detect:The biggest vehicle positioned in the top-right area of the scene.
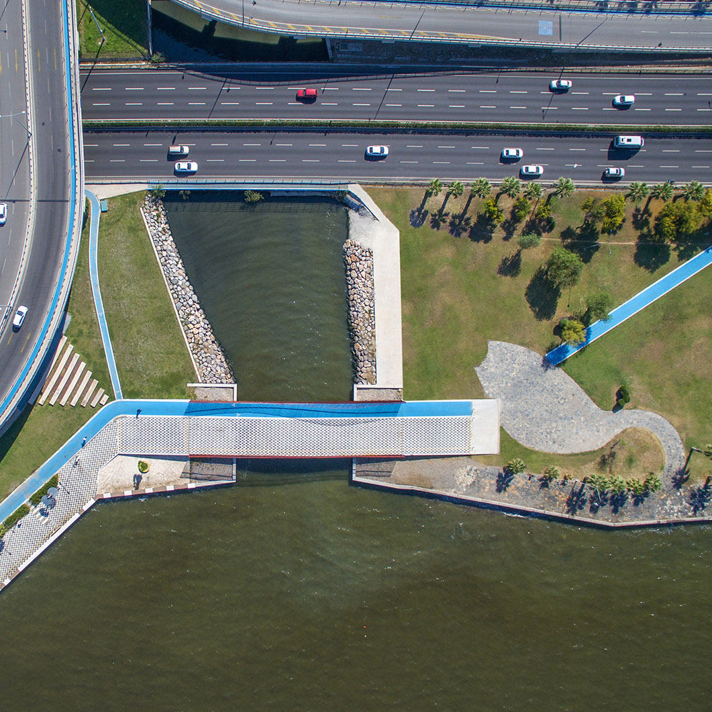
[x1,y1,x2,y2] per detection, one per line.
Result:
[611,135,642,148]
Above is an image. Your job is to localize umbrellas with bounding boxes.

[42,495,52,505]
[48,486,59,497]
